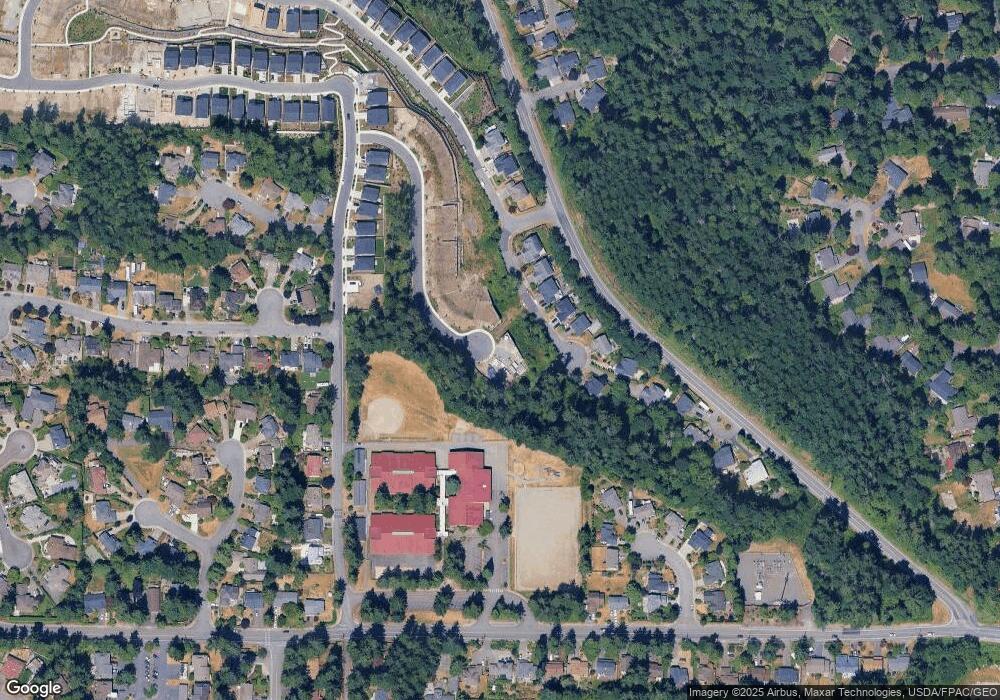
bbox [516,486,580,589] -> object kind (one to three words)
sports field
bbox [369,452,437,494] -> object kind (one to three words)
building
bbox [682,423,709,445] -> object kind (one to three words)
house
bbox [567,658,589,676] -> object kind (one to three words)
house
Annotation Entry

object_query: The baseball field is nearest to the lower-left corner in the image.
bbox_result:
[366,398,404,435]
